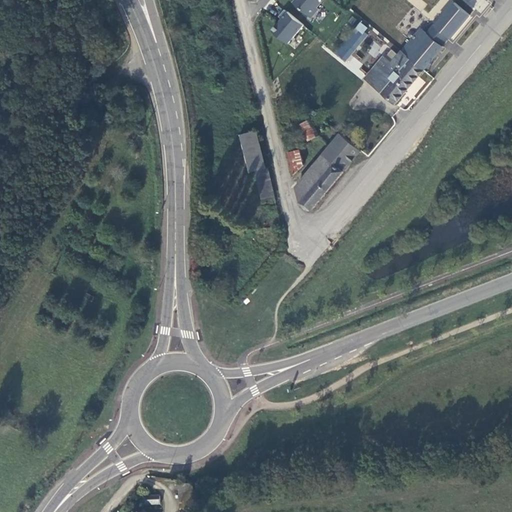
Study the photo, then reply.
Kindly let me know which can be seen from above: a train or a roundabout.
roundabout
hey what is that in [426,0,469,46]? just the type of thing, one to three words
house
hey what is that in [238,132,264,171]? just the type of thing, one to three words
barn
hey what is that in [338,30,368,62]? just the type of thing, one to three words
shed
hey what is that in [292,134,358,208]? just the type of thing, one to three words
house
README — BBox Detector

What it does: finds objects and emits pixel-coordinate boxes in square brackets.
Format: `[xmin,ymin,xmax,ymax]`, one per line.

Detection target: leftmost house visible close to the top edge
[271,13,304,46]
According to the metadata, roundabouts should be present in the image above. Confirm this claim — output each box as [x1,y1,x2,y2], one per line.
[116,350,258,471]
